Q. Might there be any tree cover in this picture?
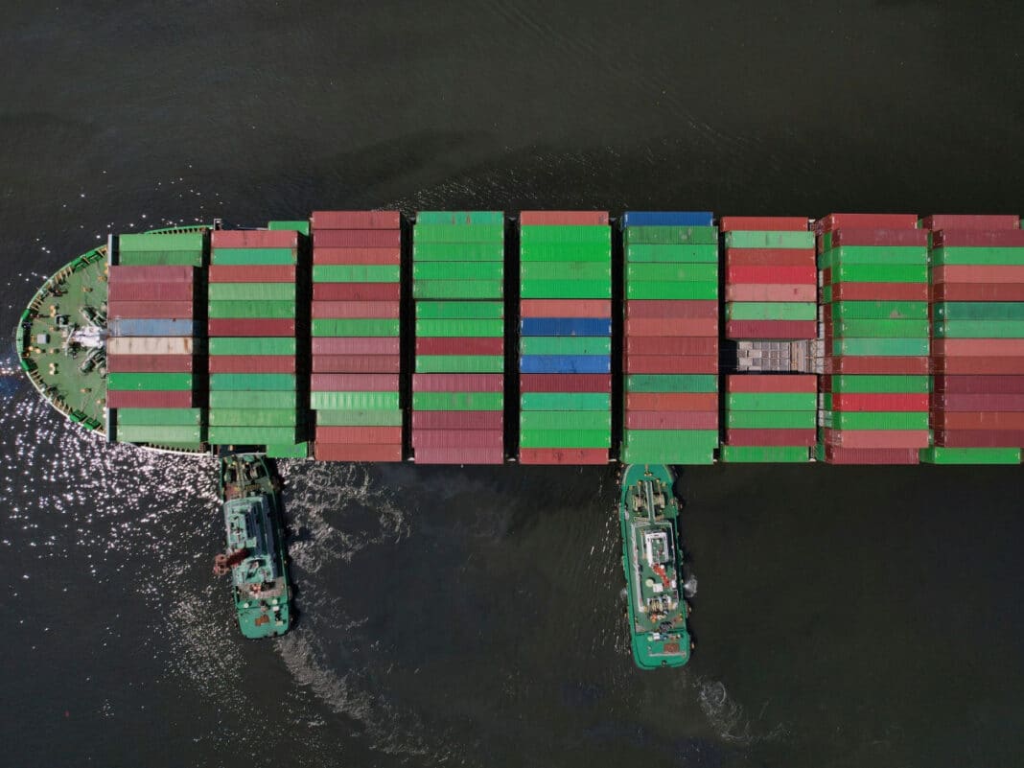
No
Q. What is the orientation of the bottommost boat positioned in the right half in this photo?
up and down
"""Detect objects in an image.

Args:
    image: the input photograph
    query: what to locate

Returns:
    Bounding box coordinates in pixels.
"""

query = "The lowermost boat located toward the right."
[618,463,693,672]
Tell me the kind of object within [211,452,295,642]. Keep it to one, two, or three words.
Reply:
boat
